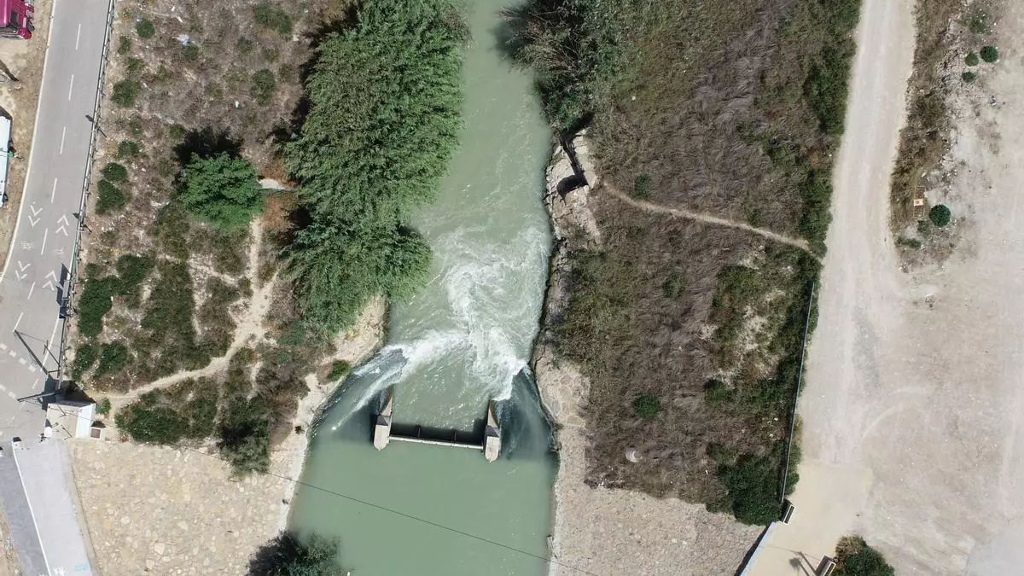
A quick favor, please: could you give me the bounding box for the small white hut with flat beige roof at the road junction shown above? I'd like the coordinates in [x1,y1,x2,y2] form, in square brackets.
[43,399,96,439]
